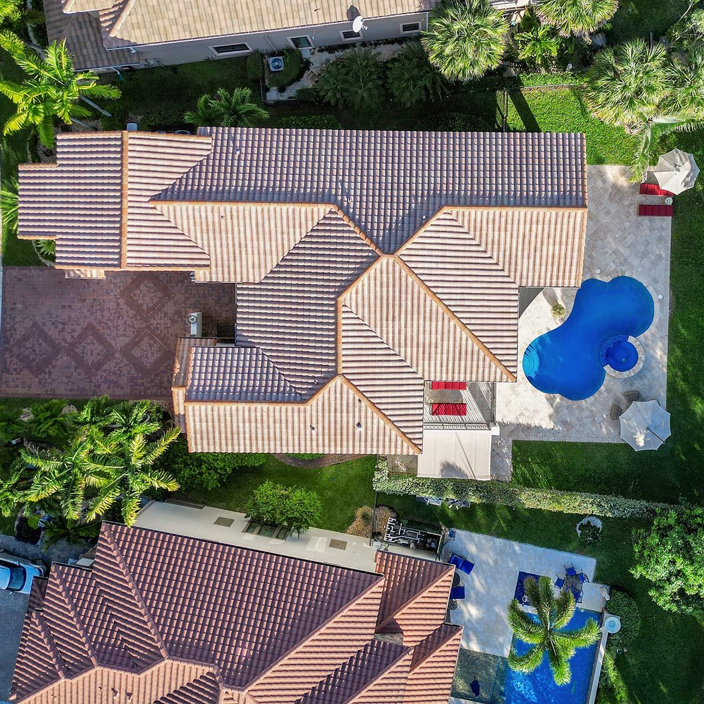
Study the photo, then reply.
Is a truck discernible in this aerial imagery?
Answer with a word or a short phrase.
No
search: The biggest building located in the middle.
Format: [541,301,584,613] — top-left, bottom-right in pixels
[15,125,589,456]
